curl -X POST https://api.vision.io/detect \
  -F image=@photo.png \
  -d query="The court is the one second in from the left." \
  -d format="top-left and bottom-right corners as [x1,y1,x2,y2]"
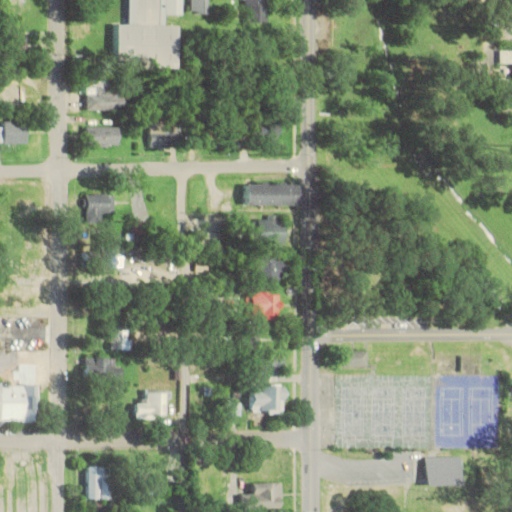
[368,375,398,448]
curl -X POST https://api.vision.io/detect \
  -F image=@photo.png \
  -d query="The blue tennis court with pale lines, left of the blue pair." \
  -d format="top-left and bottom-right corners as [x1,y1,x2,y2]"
[436,376,466,448]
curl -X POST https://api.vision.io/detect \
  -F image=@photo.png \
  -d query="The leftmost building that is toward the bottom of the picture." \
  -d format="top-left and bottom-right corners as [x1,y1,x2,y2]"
[0,364,38,424]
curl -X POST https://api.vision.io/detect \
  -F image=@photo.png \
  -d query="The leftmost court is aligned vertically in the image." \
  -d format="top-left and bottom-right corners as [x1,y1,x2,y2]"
[335,375,368,448]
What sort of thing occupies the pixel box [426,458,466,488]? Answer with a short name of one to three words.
building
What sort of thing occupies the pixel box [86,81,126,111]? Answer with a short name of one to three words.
house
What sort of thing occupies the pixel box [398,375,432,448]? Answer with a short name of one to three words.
tennis court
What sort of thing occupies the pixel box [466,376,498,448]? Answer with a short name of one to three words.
tennis court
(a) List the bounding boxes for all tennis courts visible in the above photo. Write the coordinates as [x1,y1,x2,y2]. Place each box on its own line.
[398,375,432,448]
[436,376,466,448]
[368,375,398,448]
[335,375,368,448]
[466,376,498,448]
